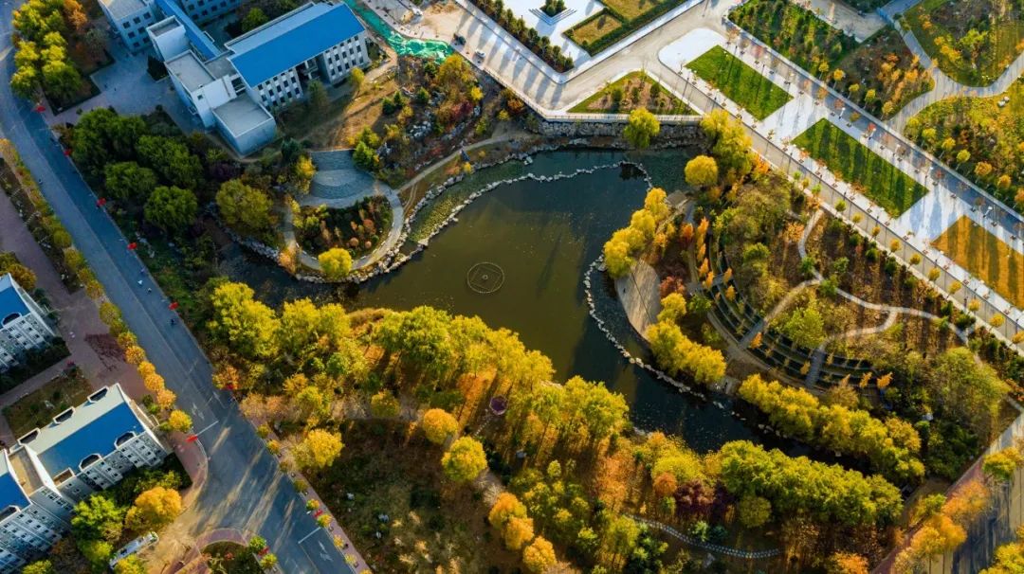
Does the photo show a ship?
No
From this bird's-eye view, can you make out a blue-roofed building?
Yes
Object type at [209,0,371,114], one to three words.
building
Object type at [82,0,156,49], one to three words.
building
